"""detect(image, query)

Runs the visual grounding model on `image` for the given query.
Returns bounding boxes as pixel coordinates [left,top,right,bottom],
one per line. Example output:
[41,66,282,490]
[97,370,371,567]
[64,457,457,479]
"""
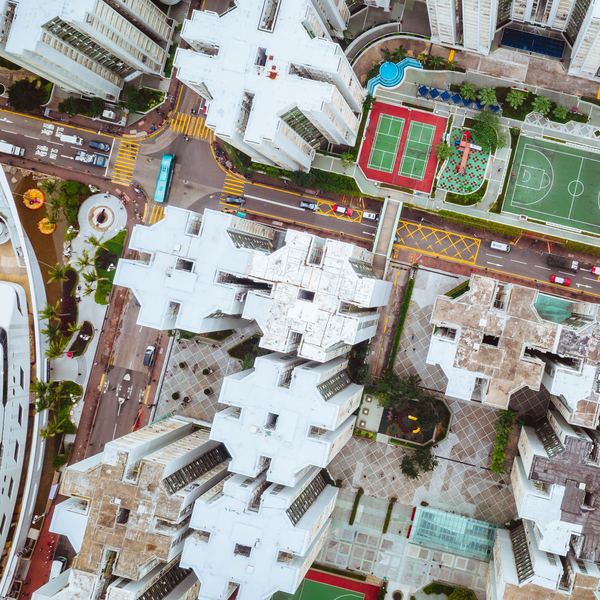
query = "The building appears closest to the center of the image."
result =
[239,231,394,365]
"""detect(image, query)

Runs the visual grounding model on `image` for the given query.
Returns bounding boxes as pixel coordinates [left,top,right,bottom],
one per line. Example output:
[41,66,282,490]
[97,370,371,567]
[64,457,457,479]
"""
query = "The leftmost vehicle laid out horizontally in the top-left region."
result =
[0,141,28,158]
